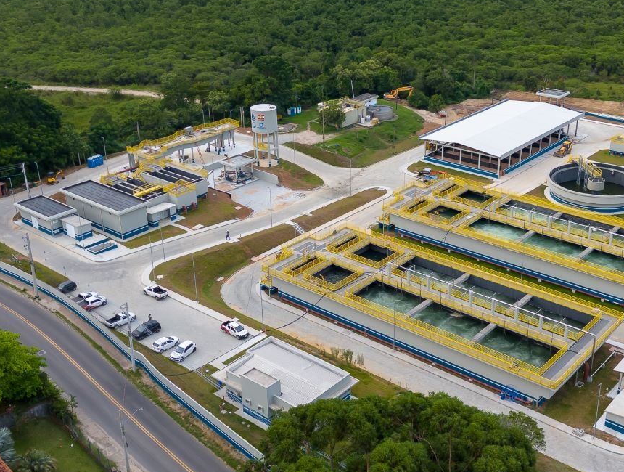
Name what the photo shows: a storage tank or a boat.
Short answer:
storage tank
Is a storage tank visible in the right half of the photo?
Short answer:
Yes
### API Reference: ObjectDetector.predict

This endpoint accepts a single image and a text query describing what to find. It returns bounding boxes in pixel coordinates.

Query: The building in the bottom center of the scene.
[207,334,360,424]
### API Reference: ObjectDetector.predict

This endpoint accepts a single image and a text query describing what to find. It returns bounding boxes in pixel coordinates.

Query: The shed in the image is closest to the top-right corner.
[418,100,589,178]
